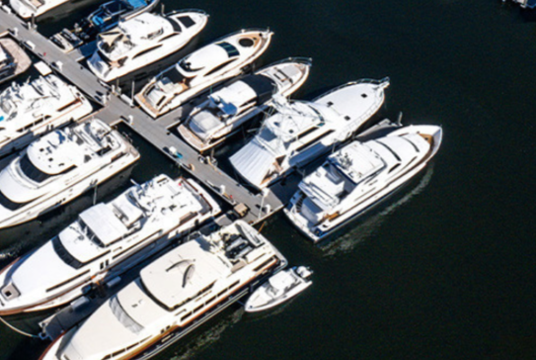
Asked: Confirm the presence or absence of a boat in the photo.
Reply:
Yes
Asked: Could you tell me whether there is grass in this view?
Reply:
No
